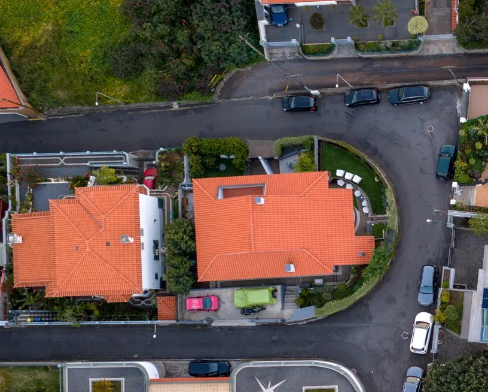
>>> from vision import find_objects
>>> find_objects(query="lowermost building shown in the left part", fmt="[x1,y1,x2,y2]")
[156,296,184,321]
